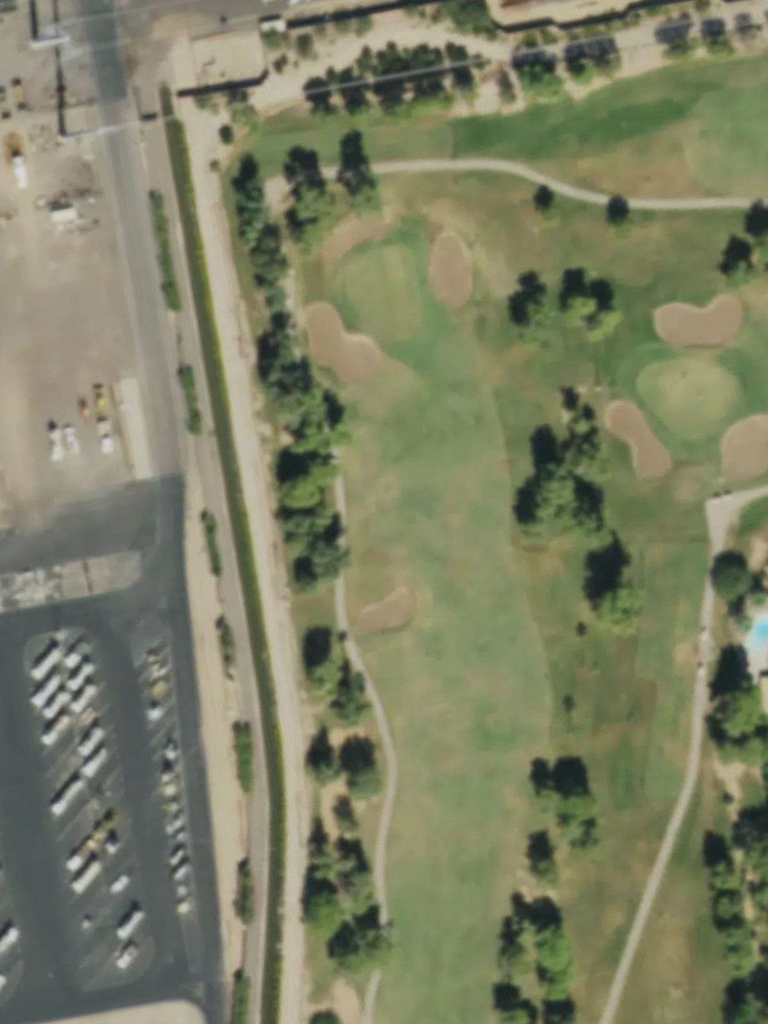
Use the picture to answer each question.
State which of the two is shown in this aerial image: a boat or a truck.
truck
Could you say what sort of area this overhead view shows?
golf course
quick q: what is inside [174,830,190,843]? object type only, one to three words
vehicle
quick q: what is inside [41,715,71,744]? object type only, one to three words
truck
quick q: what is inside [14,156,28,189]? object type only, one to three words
vehicle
